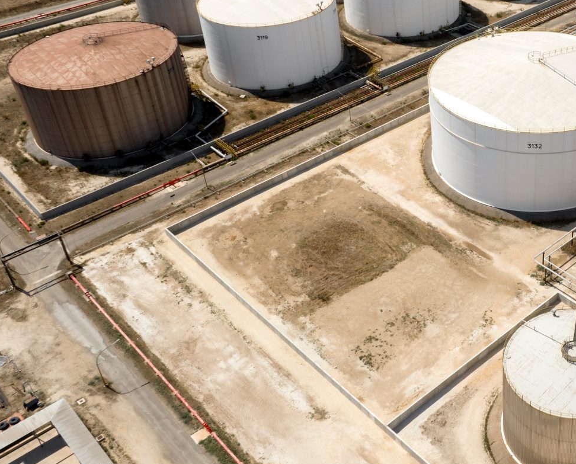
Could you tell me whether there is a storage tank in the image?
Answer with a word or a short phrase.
Yes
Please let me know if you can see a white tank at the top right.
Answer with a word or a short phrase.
Yes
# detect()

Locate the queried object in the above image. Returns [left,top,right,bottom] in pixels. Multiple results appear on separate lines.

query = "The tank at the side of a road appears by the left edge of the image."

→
[7,18,208,168]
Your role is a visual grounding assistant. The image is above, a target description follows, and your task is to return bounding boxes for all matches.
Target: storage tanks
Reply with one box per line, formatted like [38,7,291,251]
[423,26,576,218]
[196,0,354,95]
[7,18,208,168]
[132,0,203,39]
[485,302,576,464]
[338,0,469,41]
